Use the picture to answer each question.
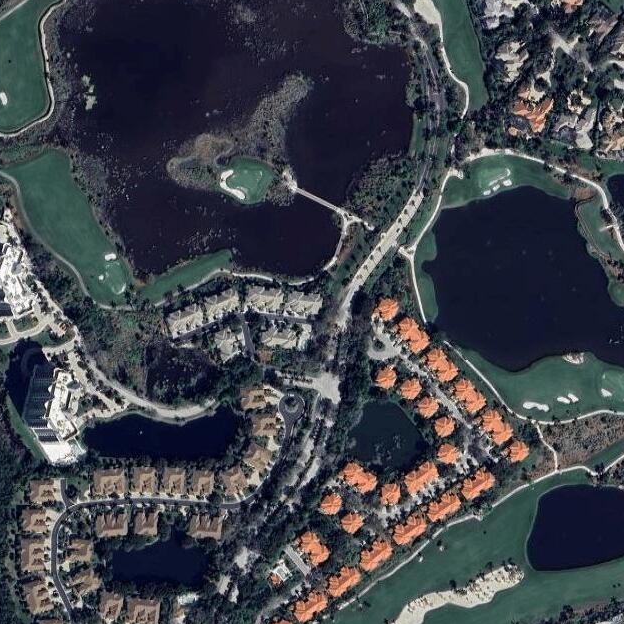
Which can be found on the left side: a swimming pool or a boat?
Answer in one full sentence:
Looking on the left side, you will find a swimming pool.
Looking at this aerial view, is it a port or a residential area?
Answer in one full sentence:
This looks like a residential area.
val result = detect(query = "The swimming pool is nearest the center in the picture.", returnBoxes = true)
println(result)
[298,328,312,350]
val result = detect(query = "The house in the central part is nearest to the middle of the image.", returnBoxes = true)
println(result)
[283,293,322,314]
